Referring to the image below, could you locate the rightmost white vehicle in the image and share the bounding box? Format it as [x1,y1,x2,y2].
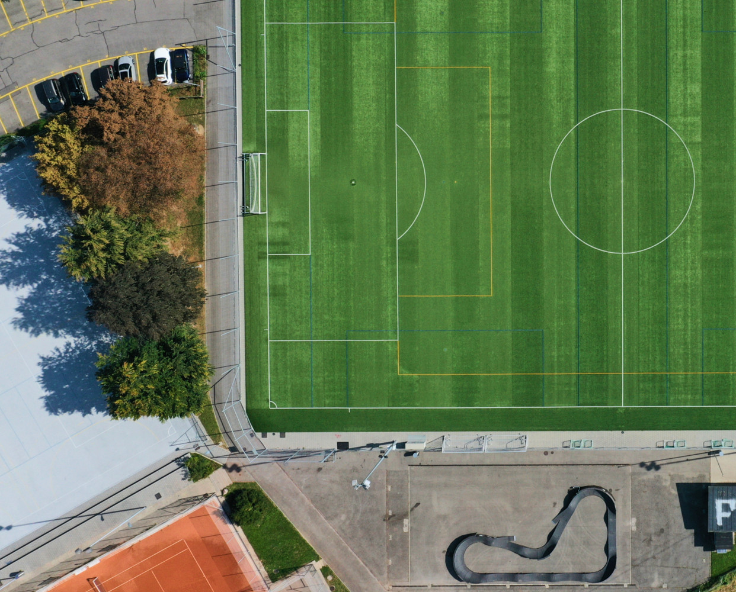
[153,47,173,85]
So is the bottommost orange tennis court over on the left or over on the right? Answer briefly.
left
